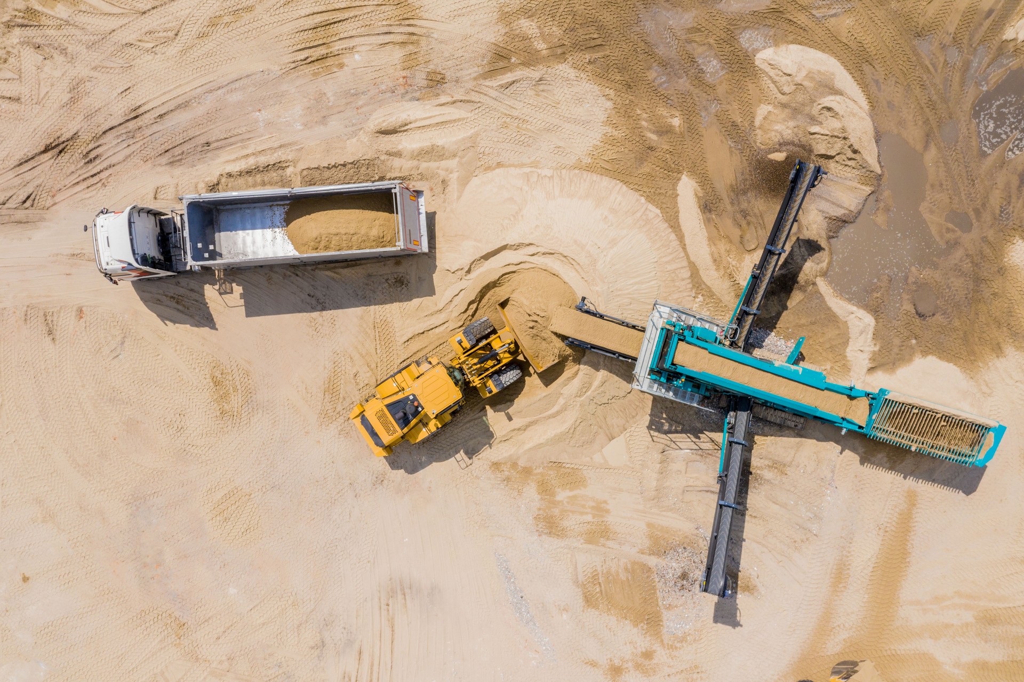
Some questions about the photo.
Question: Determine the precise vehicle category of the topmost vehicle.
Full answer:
The topmost vehicle in the image is a truck.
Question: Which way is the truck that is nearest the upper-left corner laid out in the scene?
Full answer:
In this picture, the truck that is nearest the upper-left corner is oriented from side to side.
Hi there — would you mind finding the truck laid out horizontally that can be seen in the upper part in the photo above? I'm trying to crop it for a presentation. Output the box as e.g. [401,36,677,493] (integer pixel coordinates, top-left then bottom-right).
[83,180,429,286]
